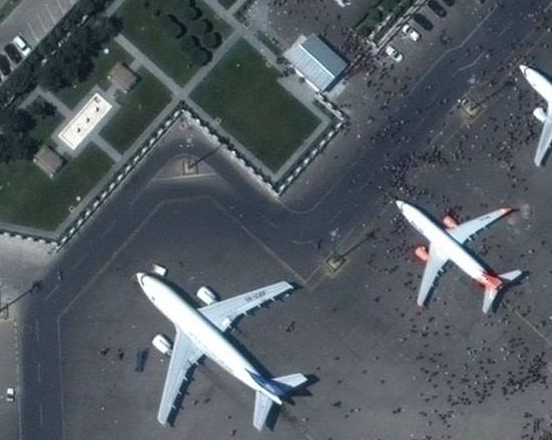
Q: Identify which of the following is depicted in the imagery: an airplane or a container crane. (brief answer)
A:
airplane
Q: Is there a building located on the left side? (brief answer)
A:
Yes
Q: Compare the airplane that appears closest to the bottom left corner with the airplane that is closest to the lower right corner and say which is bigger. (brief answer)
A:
the airplane that appears closest to the bottom left corner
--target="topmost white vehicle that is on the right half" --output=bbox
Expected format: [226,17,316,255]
[401,24,421,42]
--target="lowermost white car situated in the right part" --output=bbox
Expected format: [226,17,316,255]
[385,46,404,63]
